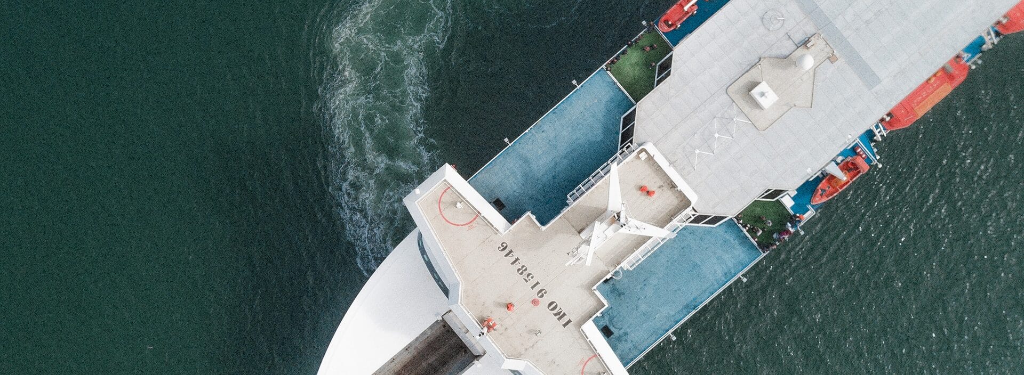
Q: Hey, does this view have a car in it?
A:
No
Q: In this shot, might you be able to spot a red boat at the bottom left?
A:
No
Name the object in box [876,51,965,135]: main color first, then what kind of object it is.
red boat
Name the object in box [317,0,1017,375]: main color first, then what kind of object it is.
white ship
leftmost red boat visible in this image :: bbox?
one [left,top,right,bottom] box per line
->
[658,0,703,33]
